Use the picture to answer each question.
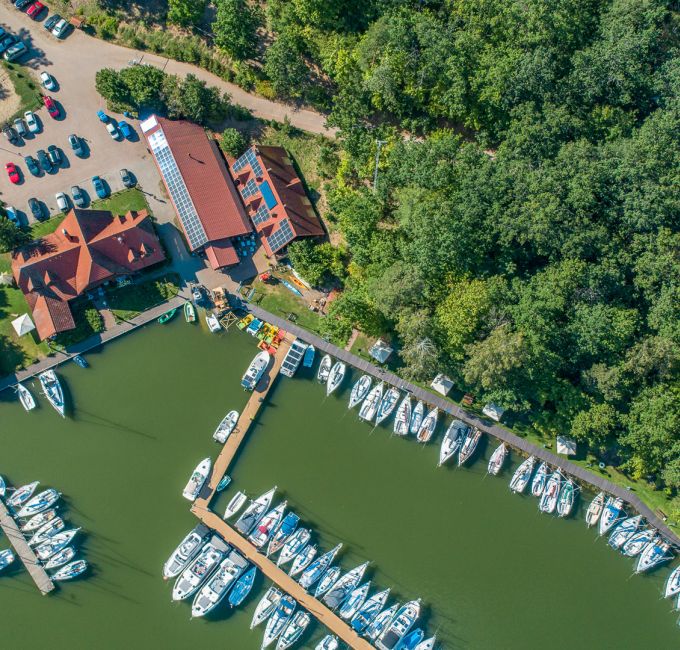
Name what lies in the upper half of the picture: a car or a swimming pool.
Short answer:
car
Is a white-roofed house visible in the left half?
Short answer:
No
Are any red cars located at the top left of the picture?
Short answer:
Yes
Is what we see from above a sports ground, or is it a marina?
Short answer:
marina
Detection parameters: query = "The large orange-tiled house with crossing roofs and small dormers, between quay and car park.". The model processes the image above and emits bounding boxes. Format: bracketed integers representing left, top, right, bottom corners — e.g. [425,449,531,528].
[11,207,167,341]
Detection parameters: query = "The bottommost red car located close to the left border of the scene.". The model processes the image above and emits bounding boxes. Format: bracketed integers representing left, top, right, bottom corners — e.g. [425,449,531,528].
[3,161,19,183]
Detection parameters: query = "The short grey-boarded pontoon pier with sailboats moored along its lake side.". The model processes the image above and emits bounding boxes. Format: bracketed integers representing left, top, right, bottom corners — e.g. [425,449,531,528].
[0,499,58,596]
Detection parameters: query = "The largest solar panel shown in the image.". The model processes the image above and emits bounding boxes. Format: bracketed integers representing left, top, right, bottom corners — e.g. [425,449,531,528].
[148,129,207,248]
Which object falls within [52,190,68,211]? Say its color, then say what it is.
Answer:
white car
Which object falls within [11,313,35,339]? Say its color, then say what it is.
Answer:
white tent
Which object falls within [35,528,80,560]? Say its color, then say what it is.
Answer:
white boat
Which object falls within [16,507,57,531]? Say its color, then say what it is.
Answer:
white boat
